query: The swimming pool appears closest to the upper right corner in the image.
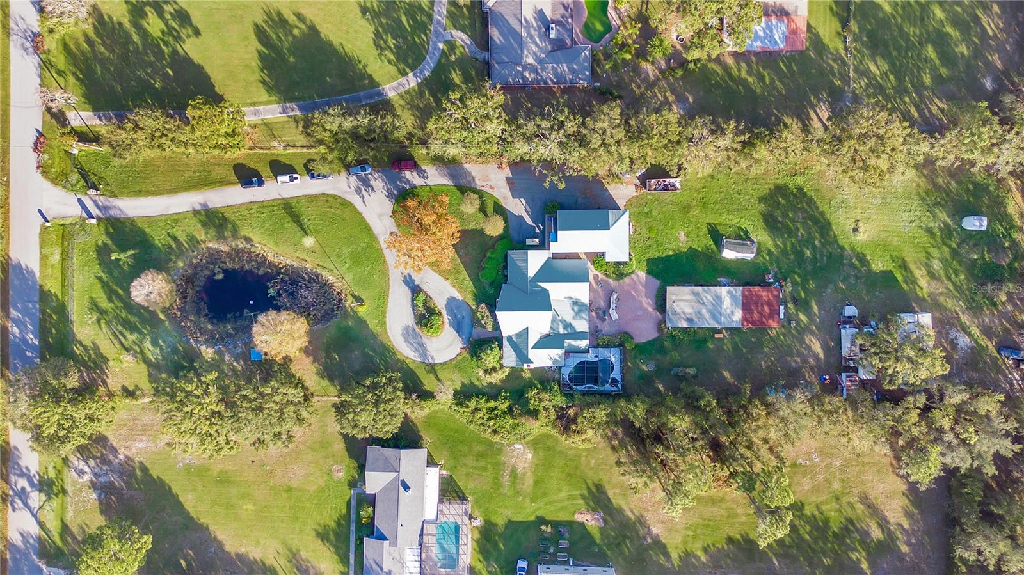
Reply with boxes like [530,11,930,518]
[580,0,613,44]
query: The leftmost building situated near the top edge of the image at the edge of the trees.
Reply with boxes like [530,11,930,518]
[481,0,592,87]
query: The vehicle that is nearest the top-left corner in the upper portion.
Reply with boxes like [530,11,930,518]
[240,177,266,189]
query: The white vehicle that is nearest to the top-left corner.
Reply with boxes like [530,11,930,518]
[276,173,301,185]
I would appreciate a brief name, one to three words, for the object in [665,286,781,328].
shed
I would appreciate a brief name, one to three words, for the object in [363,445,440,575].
house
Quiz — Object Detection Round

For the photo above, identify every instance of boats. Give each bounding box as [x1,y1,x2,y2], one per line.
[961,216,992,230]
